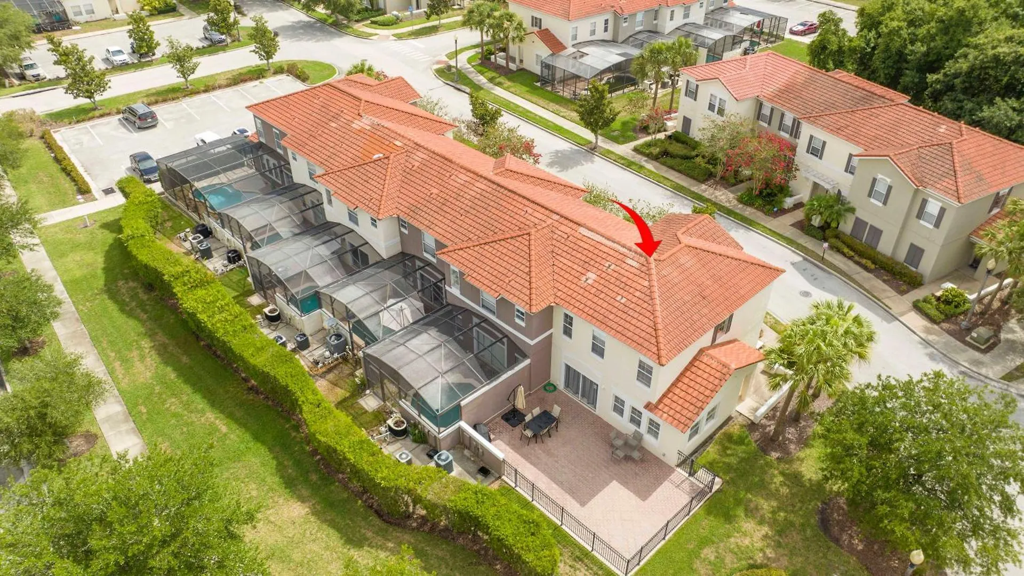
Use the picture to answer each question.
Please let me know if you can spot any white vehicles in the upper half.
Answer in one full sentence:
Yes, looking in the upper half, one can make out a white vehicle.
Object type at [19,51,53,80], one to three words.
car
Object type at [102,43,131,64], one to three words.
car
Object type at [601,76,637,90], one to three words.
swimming pool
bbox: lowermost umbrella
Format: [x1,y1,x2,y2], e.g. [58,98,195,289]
[504,384,528,426]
